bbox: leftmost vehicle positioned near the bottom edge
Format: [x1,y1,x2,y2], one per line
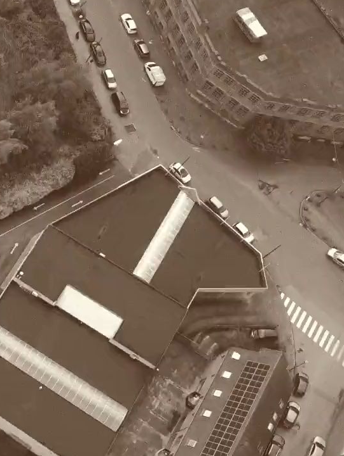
[263,435,283,456]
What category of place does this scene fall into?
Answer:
industrial area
